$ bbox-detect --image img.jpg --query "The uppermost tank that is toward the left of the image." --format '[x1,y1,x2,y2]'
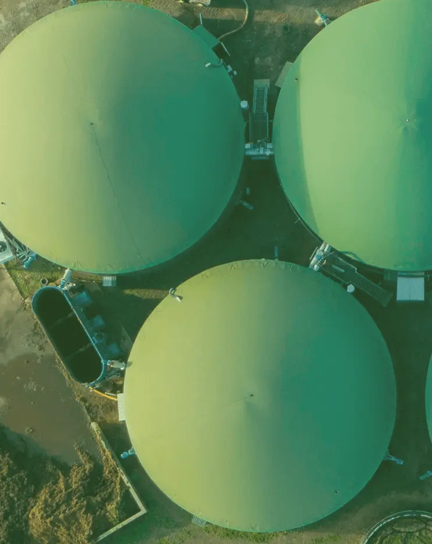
[0,1,259,280]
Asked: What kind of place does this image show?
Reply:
industrial area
